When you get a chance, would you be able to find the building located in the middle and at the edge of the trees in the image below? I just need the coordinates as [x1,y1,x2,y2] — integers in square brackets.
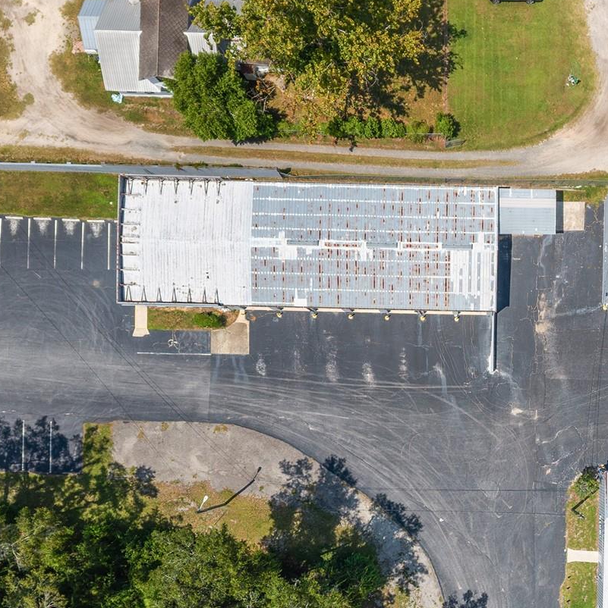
[110,172,499,318]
